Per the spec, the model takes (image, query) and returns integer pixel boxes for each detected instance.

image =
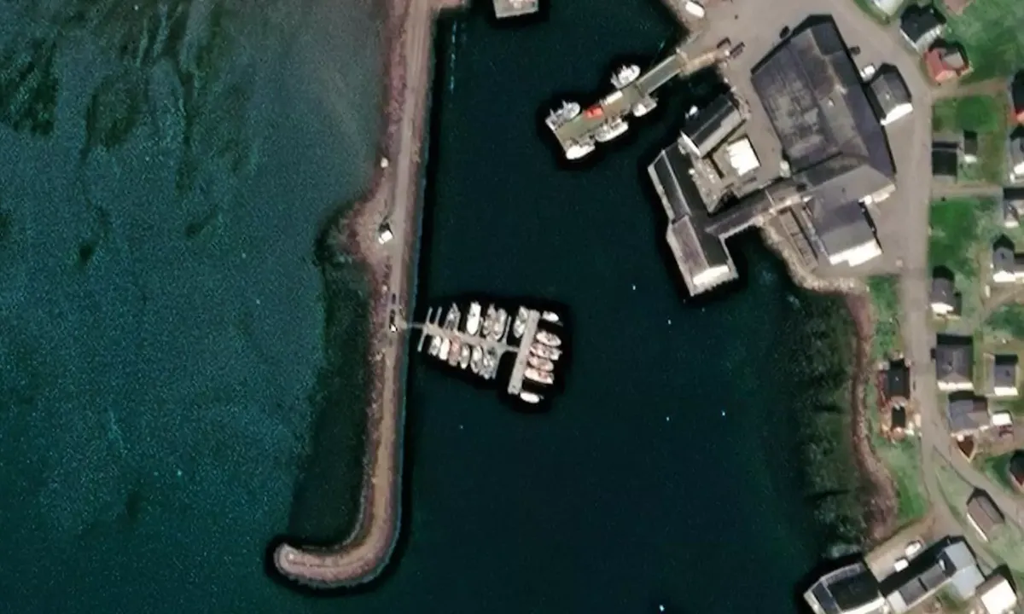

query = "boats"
[467,303,480,335]
[609,65,640,88]
[632,97,658,114]
[531,345,563,359]
[513,307,527,342]
[481,305,494,336]
[567,140,598,158]
[492,308,505,340]
[444,303,458,330]
[595,118,631,143]
[482,350,494,380]
[685,105,698,116]
[525,370,554,385]
[545,104,581,132]
[449,336,461,367]
[440,338,451,361]
[461,343,470,370]
[536,332,563,348]
[528,356,556,371]
[520,392,539,402]
[429,335,441,356]
[542,311,560,322]
[471,344,482,373]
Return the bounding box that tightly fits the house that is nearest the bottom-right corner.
[976,575,1018,614]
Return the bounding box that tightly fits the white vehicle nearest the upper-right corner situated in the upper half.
[860,63,876,80]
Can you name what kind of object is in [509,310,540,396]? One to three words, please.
pier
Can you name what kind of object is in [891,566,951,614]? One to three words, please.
building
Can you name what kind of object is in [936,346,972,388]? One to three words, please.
house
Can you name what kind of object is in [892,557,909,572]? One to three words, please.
vehicle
